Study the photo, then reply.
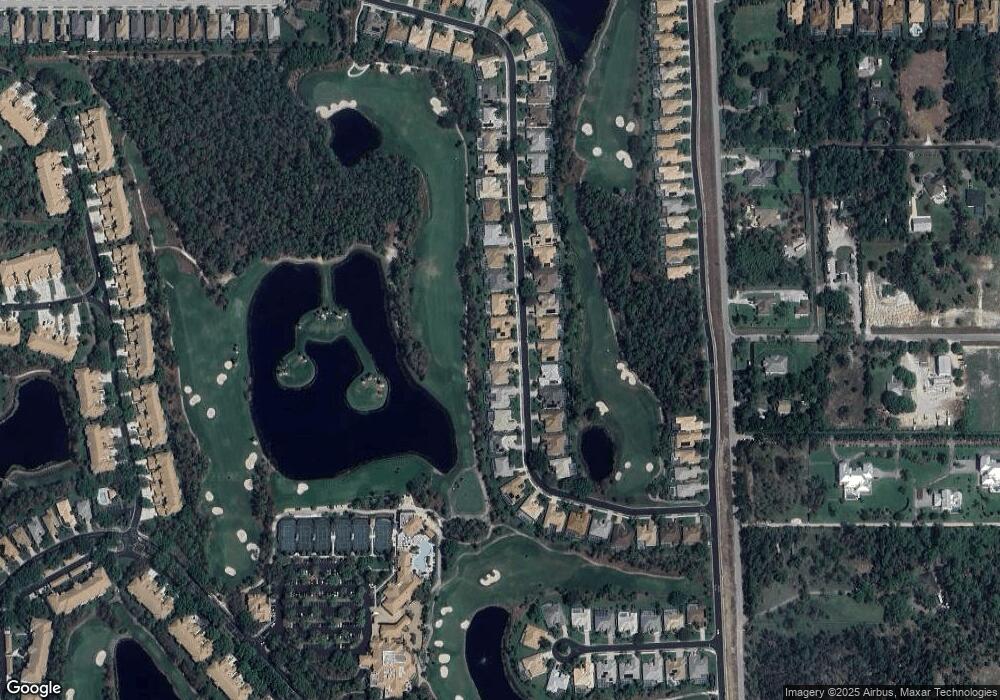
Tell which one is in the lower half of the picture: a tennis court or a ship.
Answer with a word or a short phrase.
tennis court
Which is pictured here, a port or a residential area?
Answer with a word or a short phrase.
residential area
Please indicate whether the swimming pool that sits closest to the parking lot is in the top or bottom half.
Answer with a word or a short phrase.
bottom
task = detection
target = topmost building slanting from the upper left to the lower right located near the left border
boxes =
[0,85,52,147]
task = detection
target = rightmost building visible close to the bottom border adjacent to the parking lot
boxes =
[357,549,421,698]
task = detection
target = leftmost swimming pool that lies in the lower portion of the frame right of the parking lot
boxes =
[411,535,435,574]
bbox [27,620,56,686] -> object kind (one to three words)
building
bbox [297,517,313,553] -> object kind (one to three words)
tennis court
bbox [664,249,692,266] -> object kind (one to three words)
house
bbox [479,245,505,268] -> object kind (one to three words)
house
